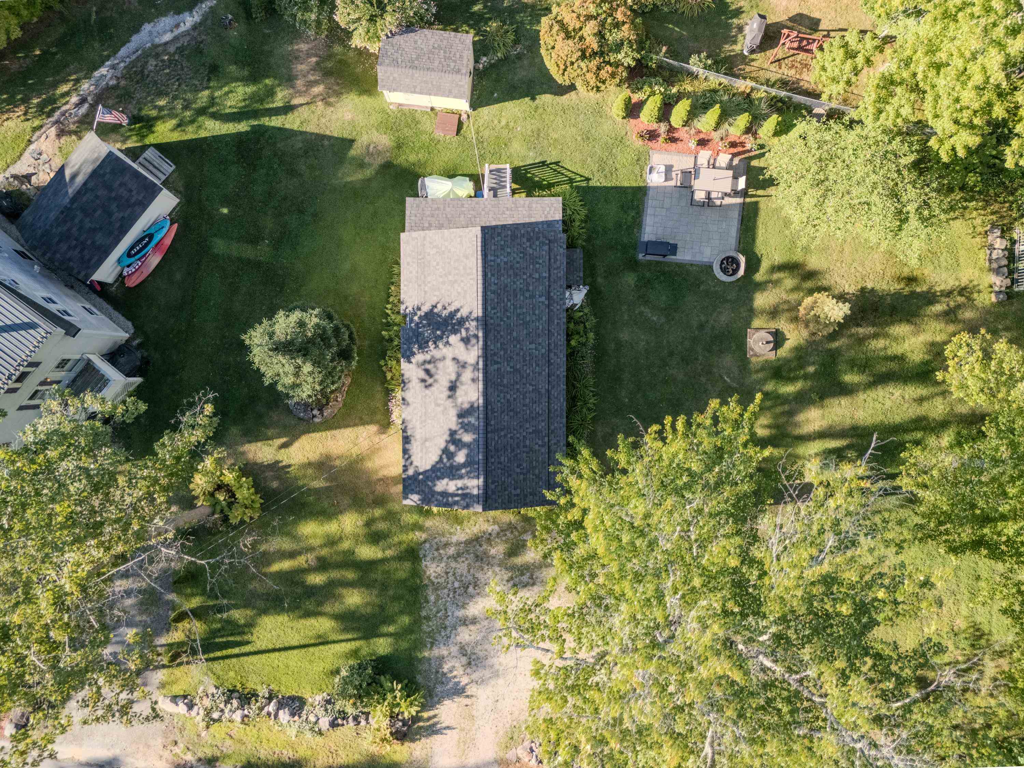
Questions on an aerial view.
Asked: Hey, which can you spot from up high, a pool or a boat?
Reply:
boat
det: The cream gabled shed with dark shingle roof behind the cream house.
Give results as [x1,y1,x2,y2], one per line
[13,128,179,283]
